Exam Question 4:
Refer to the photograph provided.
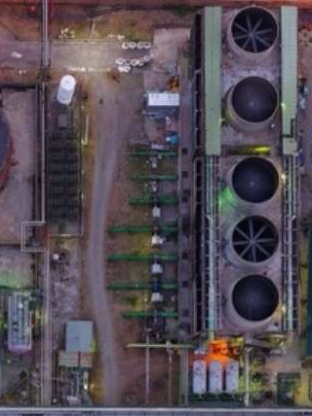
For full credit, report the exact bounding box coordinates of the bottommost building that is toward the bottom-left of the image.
[58,352,91,369]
